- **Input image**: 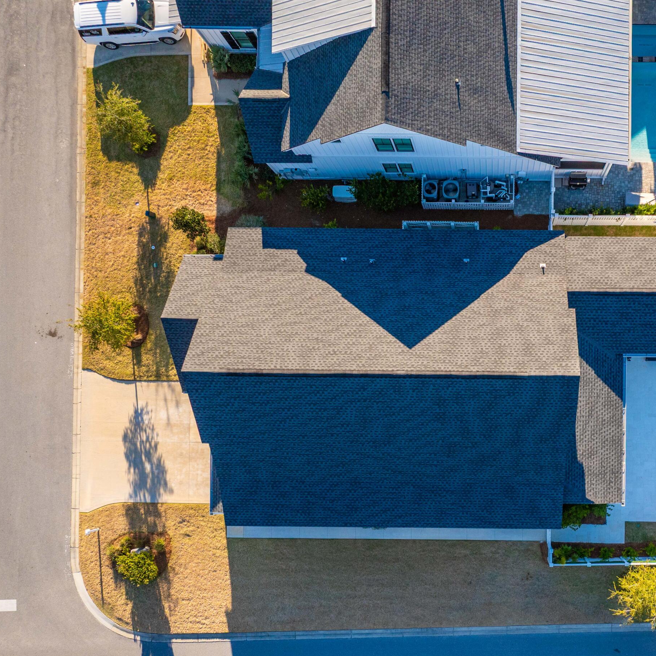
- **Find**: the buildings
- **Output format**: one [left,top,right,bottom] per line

[161,226,656,526]
[177,0,633,184]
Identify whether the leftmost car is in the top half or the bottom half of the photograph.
top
